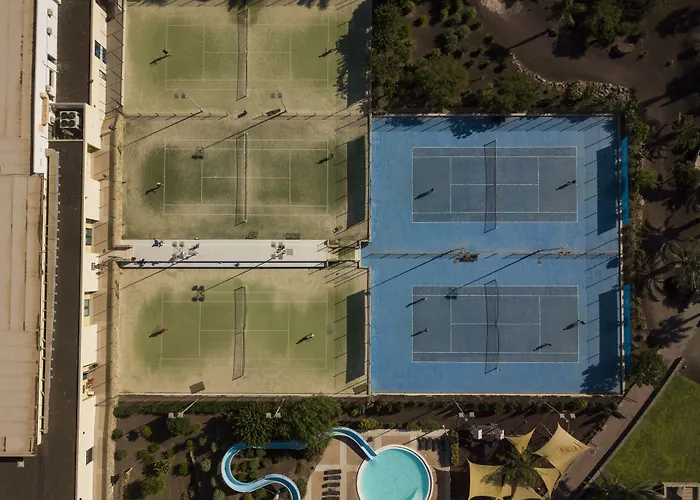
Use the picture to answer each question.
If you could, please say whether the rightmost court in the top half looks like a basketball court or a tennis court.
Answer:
tennis court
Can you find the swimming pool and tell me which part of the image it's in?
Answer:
bottom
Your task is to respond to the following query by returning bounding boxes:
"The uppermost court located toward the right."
[362,116,620,252]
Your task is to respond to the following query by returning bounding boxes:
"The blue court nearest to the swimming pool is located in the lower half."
[362,253,621,393]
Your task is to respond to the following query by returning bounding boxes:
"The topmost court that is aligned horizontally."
[124,0,367,114]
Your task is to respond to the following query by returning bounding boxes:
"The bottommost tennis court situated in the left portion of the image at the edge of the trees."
[113,263,368,395]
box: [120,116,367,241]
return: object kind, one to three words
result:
tennis court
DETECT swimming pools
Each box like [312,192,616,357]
[357,445,433,500]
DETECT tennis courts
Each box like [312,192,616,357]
[120,116,367,241]
[362,116,620,252]
[362,253,621,393]
[113,263,368,395]
[124,0,367,114]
